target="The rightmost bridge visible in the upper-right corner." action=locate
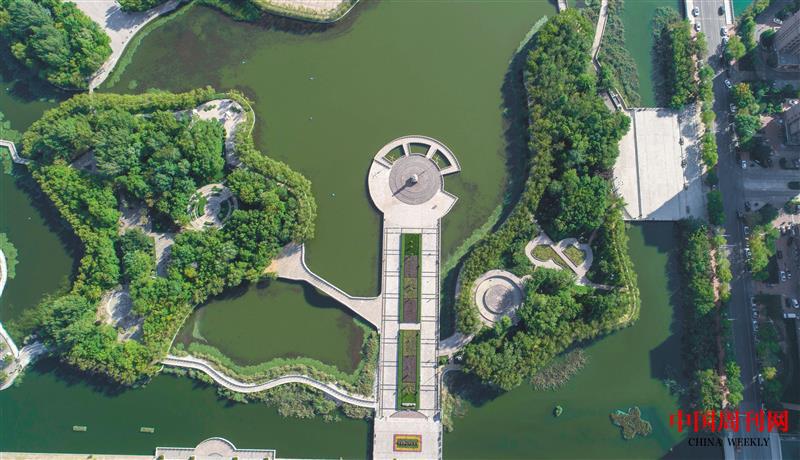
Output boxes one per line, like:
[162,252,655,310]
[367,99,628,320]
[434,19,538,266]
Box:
[685,0,734,23]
